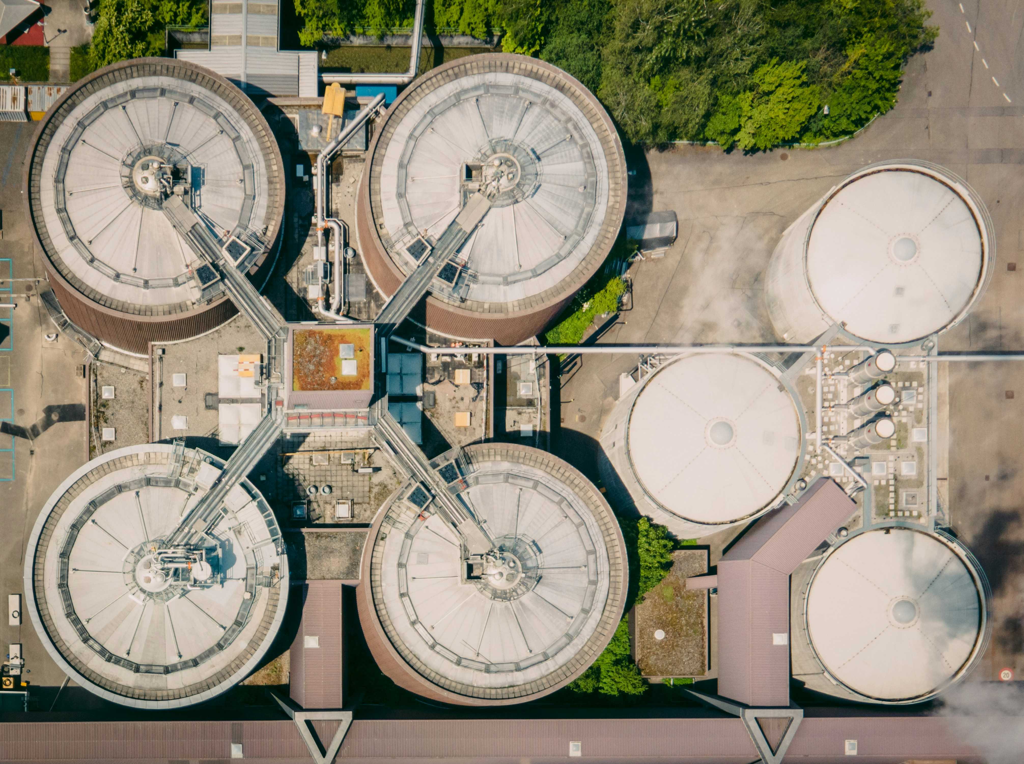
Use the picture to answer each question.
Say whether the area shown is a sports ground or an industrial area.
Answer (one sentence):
What you see here is an industrial area.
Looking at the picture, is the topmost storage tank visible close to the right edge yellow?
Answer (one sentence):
No, the topmost storage tank visible close to the right edge is white.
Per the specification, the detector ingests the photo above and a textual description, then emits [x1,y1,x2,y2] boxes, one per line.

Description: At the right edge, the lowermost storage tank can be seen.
[789,517,998,707]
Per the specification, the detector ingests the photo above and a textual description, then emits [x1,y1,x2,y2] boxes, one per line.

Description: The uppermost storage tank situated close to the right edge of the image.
[766,155,999,353]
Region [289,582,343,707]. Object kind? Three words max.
building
